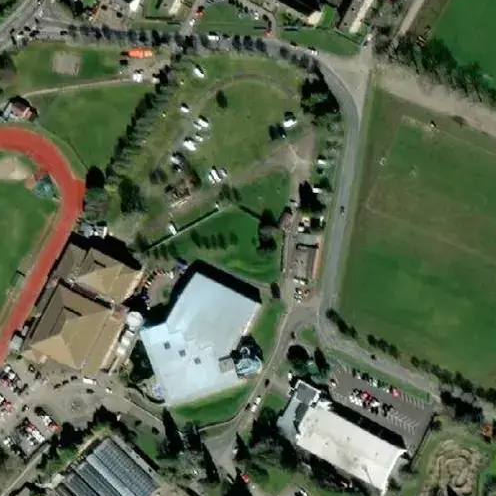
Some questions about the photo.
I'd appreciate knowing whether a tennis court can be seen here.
No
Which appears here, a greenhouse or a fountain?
greenhouse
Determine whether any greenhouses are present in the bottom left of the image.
Yes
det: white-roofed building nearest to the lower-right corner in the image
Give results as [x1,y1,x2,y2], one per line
[297,404,410,495]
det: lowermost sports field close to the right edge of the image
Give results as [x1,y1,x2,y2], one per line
[344,96,496,388]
